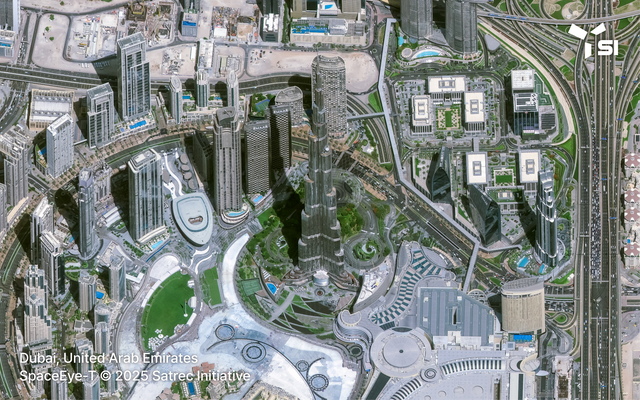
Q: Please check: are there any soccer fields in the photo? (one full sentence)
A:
No, the frame has no soccer field in it.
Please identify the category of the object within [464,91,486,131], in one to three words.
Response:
building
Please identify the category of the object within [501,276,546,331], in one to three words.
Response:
building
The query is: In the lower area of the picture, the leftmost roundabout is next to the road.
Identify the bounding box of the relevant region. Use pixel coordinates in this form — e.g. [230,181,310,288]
[348,232,391,266]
